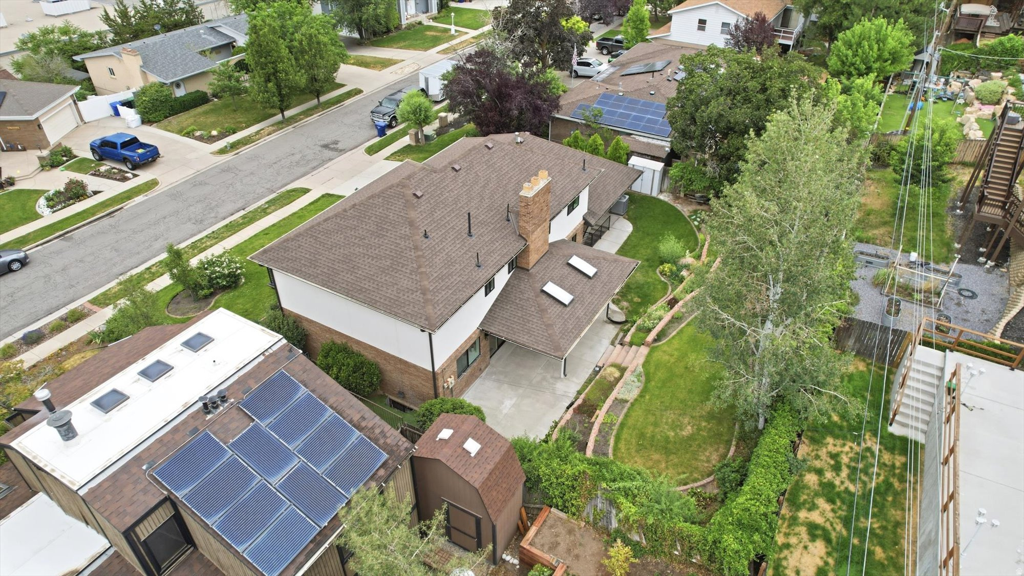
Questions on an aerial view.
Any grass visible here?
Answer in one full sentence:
Yes, there's grass in this view.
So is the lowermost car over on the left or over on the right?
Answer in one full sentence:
The lowermost car sits on the left side.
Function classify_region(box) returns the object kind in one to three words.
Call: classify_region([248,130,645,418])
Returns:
house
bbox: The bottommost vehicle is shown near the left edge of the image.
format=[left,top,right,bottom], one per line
[0,246,32,278]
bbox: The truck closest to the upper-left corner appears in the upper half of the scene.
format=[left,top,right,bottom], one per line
[86,124,164,167]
